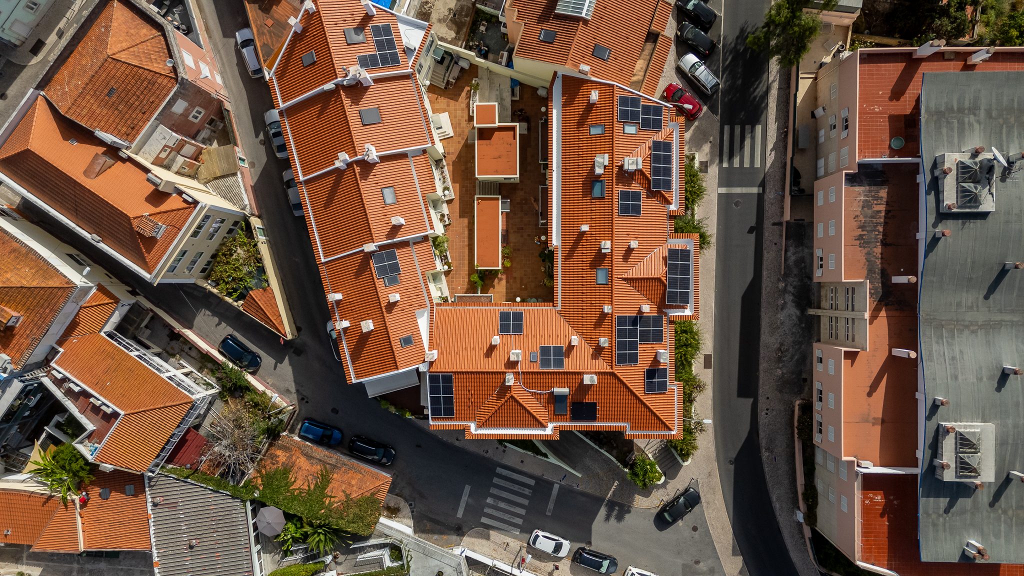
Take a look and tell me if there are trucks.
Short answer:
No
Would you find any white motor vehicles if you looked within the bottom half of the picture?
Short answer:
Yes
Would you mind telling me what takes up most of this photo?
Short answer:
buildings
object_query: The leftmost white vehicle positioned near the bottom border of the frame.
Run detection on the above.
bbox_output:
[528,528,570,558]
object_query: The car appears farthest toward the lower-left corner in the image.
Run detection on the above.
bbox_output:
[217,334,264,370]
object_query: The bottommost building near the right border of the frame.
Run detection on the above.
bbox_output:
[808,40,1024,576]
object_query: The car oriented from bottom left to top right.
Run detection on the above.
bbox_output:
[653,486,702,530]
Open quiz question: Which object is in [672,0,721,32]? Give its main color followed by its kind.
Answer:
black car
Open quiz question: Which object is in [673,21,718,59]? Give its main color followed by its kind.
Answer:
black car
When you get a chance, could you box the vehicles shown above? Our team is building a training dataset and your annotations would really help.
[217,334,264,370]
[237,29,267,78]
[617,560,664,576]
[528,528,570,558]
[571,544,617,575]
[659,82,705,125]
[653,486,702,530]
[324,320,342,365]
[672,0,721,32]
[673,21,718,59]
[299,419,345,446]
[674,53,723,98]
[281,170,305,217]
[262,110,290,160]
